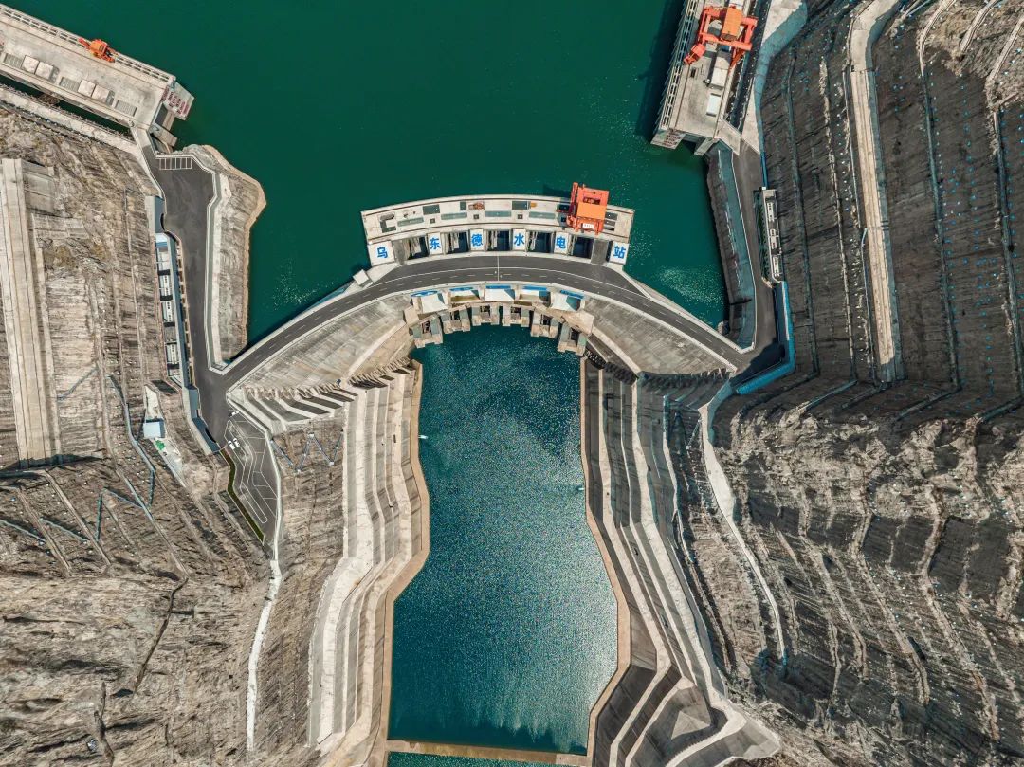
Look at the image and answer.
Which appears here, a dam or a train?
dam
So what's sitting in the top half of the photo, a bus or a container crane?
container crane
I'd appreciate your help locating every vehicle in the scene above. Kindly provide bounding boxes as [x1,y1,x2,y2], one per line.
[233,438,240,447]
[227,441,234,450]
[230,409,239,416]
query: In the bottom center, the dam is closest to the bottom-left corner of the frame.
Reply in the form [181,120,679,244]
[383,734,594,767]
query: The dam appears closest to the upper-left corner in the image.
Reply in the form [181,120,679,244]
[223,194,744,388]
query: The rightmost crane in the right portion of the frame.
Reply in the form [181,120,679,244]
[682,1,758,71]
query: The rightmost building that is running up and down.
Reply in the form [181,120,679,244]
[756,184,790,284]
